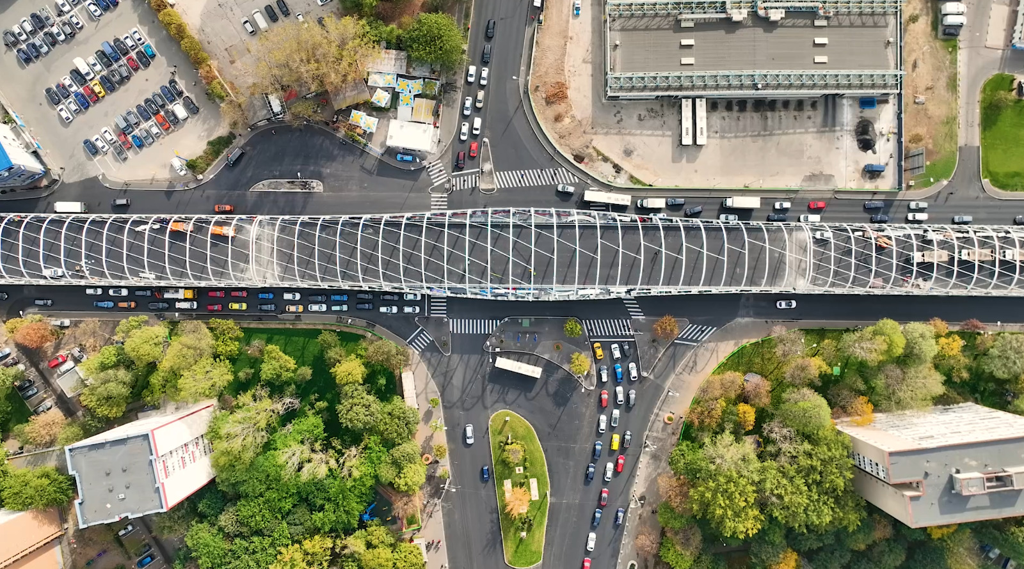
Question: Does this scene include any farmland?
No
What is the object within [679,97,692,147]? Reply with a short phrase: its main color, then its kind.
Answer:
white vehicle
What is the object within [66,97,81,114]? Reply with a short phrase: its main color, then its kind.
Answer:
white car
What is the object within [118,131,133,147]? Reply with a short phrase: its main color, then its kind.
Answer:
red car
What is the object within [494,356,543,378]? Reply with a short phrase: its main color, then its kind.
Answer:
white bus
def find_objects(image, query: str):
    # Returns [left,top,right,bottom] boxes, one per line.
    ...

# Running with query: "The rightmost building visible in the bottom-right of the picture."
[833,404,1024,528]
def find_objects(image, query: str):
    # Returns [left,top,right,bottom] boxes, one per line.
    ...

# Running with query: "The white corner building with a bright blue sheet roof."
[0,98,42,185]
